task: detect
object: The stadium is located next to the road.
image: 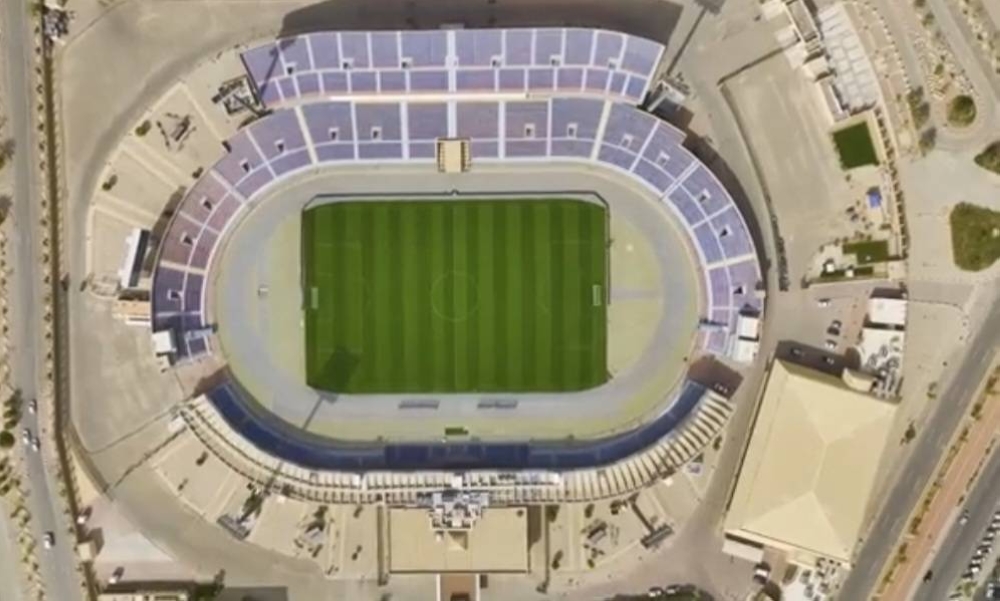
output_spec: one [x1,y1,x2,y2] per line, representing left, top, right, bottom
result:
[151,21,764,505]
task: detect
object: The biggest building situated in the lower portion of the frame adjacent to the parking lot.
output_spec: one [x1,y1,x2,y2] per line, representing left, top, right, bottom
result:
[720,351,900,569]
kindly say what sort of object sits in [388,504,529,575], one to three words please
building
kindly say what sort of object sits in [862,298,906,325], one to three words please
building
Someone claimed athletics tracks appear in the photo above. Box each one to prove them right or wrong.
[201,157,712,448]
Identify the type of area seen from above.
sports ground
